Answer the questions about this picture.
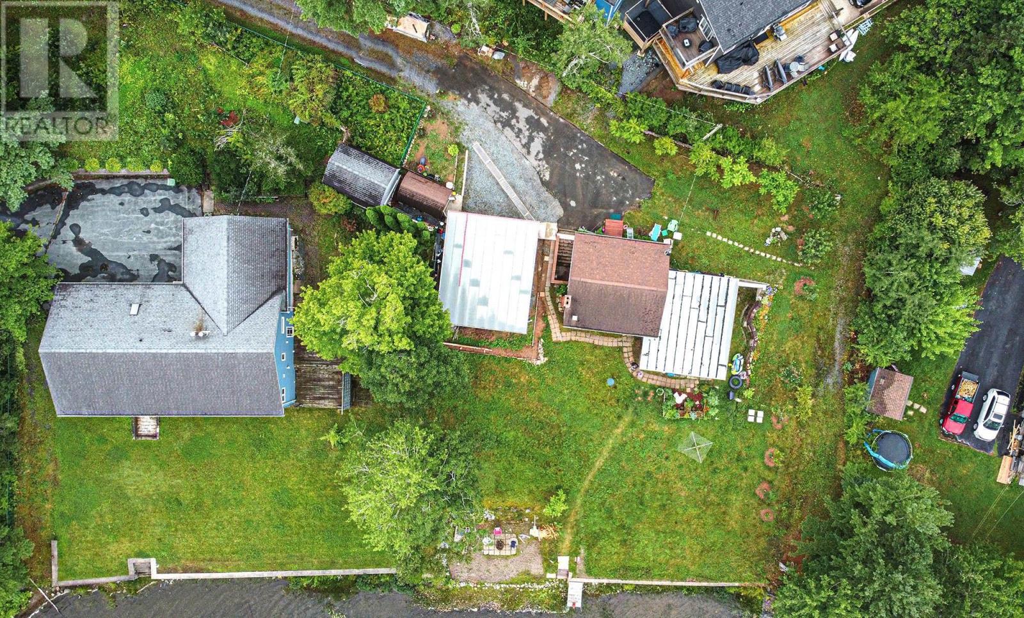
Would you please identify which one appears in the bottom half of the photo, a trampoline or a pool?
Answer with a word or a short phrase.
trampoline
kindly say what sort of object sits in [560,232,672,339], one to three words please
house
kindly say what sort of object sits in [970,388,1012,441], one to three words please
car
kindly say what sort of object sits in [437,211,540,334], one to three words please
building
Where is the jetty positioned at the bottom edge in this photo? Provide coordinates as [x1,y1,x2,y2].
[567,583,583,608]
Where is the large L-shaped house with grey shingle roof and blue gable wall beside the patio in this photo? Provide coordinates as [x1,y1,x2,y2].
[39,215,295,417]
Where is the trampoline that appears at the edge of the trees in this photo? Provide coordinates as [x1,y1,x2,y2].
[863,429,914,473]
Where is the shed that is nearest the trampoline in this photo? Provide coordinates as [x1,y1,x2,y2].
[860,368,914,420]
